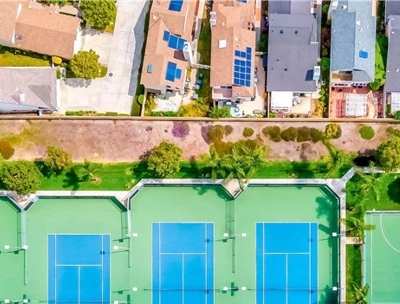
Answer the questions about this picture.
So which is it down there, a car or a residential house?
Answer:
residential house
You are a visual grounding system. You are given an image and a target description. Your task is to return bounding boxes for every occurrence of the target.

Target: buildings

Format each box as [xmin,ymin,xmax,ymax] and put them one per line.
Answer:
[328,0,375,88]
[0,68,61,112]
[210,0,255,98]
[267,0,321,97]
[141,0,196,97]
[0,0,83,61]
[381,0,400,98]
